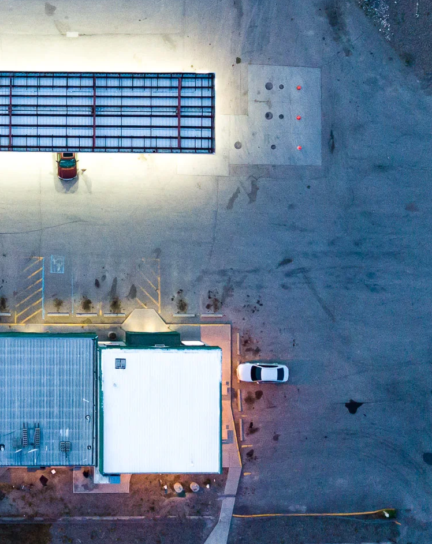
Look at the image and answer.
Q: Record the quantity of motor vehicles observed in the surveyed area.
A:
2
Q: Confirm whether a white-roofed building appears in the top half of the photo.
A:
No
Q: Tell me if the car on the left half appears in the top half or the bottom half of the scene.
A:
top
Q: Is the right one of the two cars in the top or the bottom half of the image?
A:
bottom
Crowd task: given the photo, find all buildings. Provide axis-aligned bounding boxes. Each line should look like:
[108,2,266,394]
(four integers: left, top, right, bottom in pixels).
[96,330,222,475]
[0,326,95,467]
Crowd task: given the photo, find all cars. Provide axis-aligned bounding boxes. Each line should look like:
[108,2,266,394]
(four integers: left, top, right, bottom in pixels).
[54,155,80,181]
[236,362,289,386]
